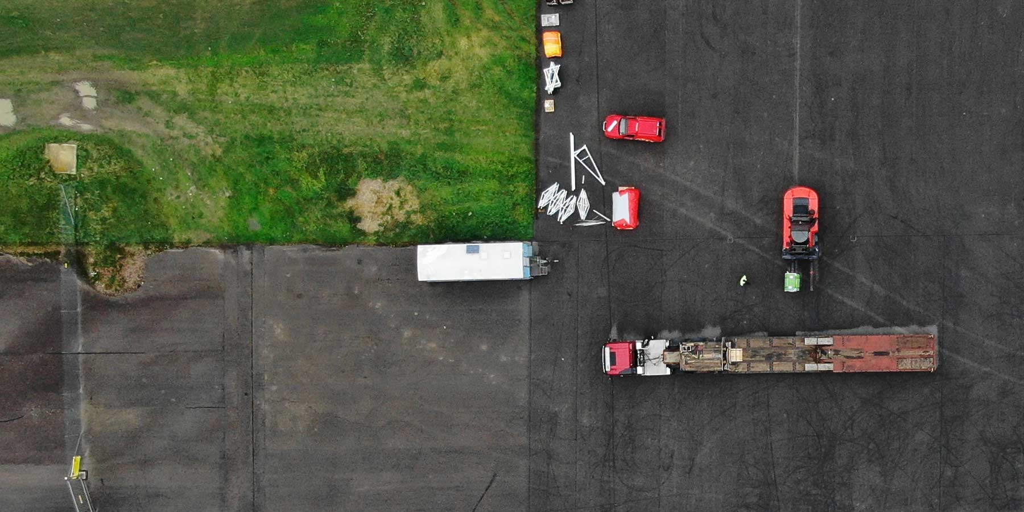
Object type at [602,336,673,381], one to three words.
truck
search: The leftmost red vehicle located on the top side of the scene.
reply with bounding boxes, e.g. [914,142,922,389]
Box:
[605,114,666,144]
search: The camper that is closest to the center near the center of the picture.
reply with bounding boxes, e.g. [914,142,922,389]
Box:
[417,242,561,286]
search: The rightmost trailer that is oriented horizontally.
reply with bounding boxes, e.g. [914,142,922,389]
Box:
[663,335,936,373]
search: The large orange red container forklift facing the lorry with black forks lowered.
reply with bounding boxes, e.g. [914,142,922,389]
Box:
[783,187,819,291]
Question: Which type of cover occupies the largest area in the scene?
paved ground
